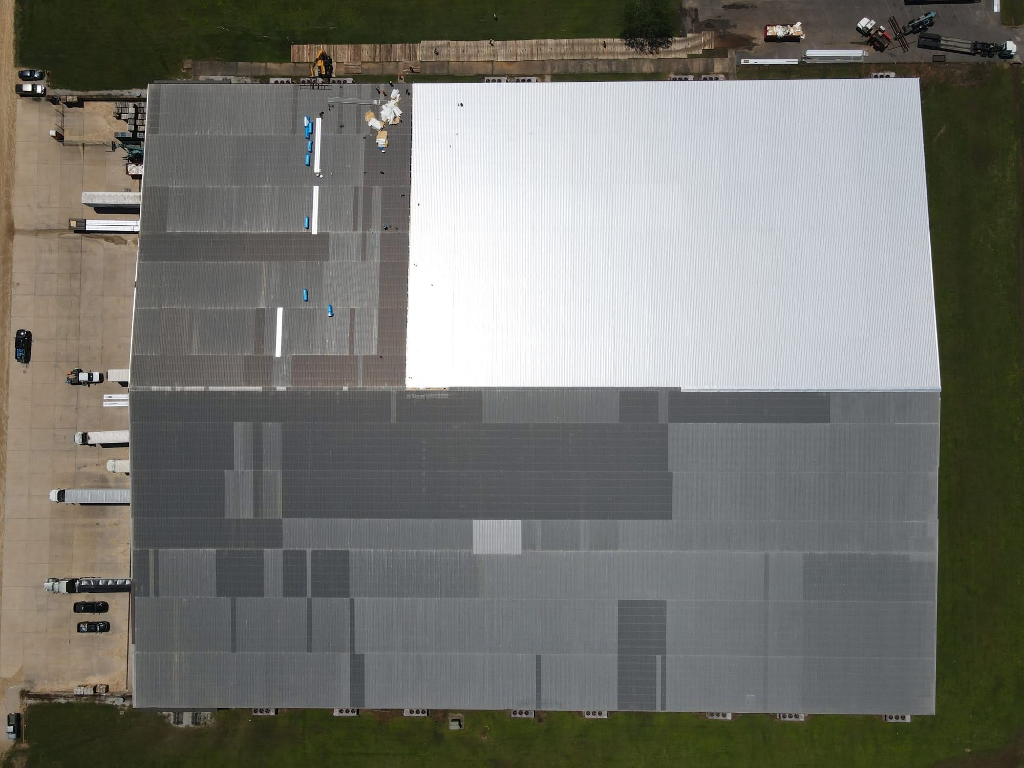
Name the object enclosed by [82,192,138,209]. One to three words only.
trailer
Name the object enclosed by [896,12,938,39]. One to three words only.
work vehicle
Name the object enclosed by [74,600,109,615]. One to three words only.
vehicle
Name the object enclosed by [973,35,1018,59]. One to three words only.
truck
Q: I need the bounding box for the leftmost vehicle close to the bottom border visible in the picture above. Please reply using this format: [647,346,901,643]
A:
[4,710,21,740]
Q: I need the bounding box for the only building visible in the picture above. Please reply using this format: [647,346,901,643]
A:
[126,76,942,716]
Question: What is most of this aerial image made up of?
buildings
